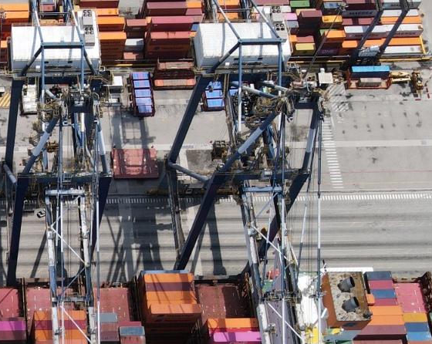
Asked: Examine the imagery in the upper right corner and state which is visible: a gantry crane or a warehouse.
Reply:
gantry crane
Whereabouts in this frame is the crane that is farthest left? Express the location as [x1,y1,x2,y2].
[0,0,120,344]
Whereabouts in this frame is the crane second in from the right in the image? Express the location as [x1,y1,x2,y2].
[135,0,329,344]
